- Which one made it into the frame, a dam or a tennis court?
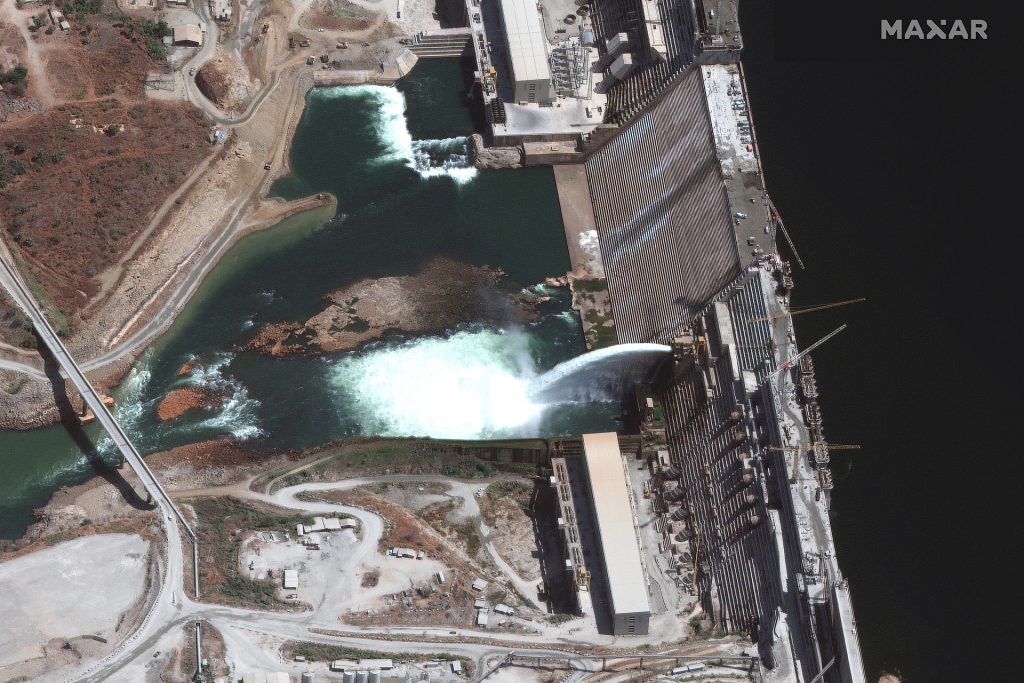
dam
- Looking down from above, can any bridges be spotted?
Yes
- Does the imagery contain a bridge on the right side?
No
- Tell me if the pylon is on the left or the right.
left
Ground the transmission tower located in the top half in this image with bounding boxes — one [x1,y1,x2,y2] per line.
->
[145,79,173,100]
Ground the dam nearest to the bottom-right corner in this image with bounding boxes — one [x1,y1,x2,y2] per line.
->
[553,0,866,683]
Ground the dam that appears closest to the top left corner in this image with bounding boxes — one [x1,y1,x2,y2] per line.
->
[408,27,469,62]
